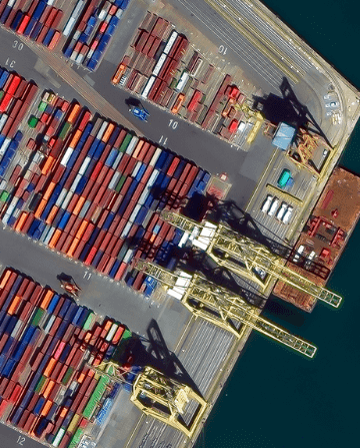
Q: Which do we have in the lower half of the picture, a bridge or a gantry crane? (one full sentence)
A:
Visible in the lower half of the picture is a gantry crane.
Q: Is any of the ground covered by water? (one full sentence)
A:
Yes, there's water in this view.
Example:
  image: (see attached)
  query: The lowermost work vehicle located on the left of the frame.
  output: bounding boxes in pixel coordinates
[59,280,82,296]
